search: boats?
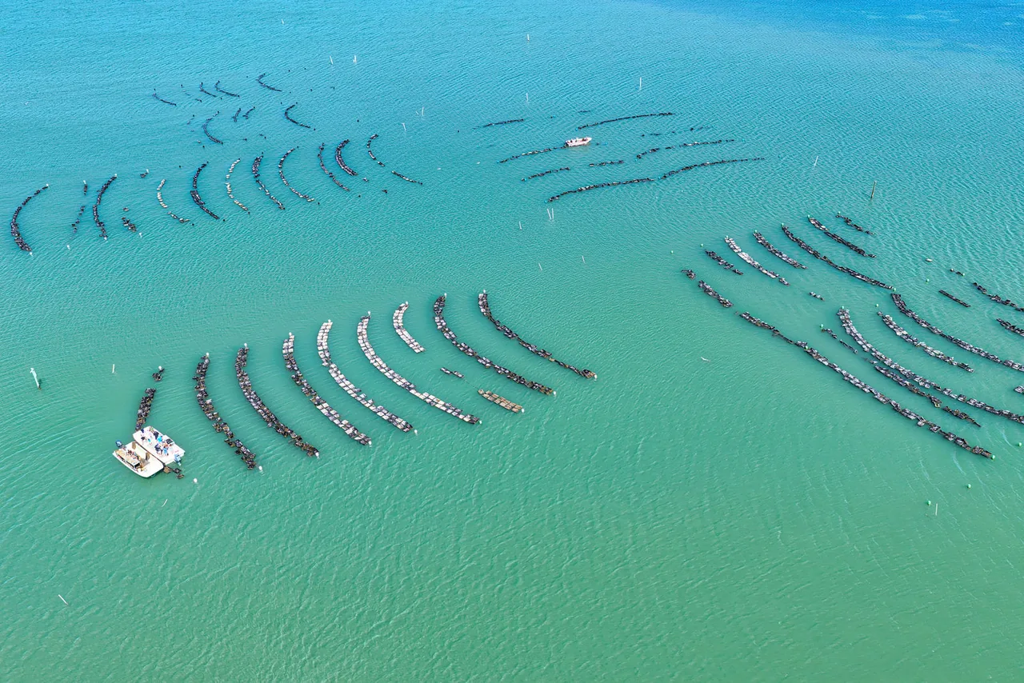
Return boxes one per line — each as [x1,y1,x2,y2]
[113,441,165,479]
[132,425,186,466]
[561,139,591,150]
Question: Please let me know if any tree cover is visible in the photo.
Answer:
No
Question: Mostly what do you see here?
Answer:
water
